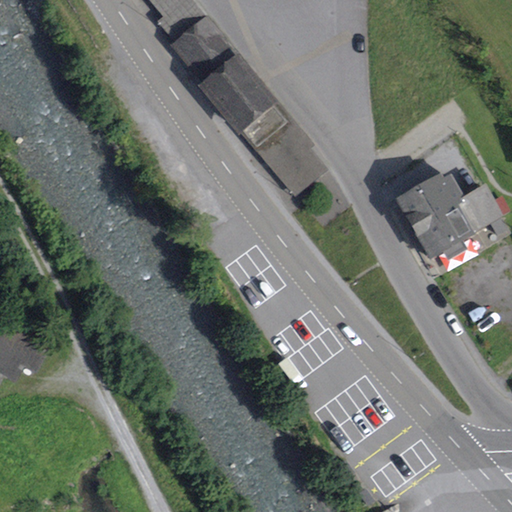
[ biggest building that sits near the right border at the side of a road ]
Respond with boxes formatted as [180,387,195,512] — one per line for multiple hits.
[398,173,505,259]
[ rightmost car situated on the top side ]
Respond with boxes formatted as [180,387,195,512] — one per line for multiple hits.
[459,166,475,187]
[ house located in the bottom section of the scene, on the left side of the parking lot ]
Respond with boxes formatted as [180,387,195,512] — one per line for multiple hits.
[0,332,45,384]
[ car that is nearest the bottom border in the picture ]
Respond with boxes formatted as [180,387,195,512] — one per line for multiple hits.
[394,456,412,477]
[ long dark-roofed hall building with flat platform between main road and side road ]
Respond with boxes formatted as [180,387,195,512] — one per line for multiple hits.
[151,0,327,196]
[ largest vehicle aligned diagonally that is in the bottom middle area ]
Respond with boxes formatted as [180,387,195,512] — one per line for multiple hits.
[278,355,306,390]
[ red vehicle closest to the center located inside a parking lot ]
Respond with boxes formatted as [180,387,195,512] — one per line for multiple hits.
[294,320,311,340]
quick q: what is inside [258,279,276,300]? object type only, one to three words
car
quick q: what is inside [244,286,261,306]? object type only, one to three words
car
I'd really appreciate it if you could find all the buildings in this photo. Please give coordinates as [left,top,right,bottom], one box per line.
[0,332,45,384]
[151,0,327,196]
[398,173,505,259]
